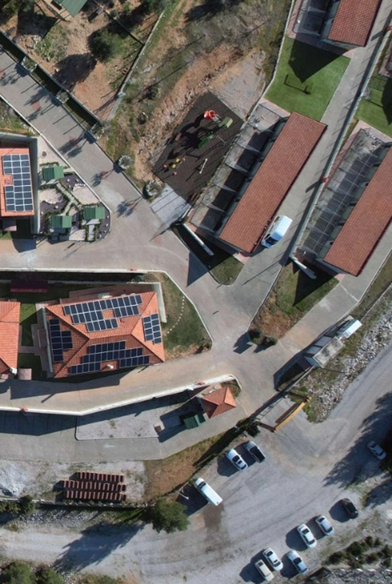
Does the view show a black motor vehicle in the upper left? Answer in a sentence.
No, in the upper left there is no black motor vehicle.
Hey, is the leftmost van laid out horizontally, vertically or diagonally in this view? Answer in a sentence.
I'd say the leftmost van is aligned diagonally in the picture.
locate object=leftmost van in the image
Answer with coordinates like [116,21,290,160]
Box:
[195,476,231,513]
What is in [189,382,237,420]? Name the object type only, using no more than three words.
house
